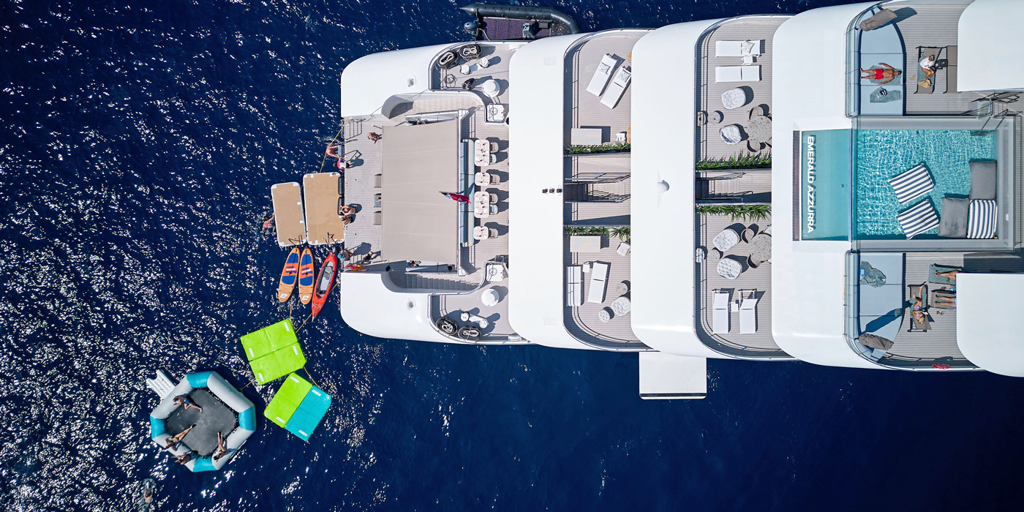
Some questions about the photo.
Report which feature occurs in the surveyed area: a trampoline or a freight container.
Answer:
trampoline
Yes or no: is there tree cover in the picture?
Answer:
No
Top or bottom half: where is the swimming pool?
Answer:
top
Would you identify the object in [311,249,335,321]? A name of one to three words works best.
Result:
boat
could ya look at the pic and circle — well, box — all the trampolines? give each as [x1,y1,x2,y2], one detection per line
[141,364,258,471]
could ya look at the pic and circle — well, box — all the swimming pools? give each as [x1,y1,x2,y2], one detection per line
[792,98,1022,252]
